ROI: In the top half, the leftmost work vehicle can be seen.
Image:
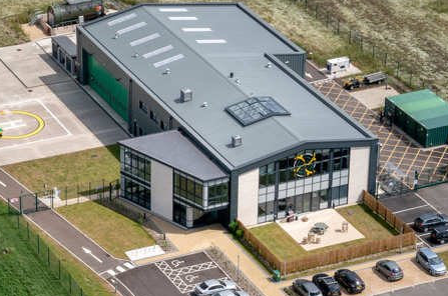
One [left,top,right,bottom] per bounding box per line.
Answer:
[342,67,367,89]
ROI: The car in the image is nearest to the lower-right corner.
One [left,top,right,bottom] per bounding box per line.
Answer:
[413,244,448,273]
